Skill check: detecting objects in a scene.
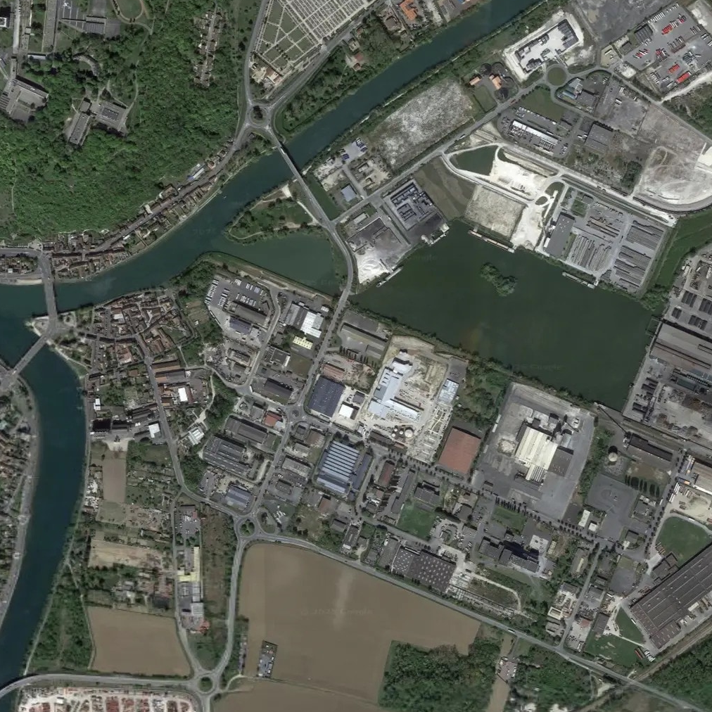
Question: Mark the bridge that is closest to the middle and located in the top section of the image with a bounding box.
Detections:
[272,136,327,214]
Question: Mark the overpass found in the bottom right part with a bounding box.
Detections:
[591,665,676,704]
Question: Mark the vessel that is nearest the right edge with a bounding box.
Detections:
[563,274,594,289]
